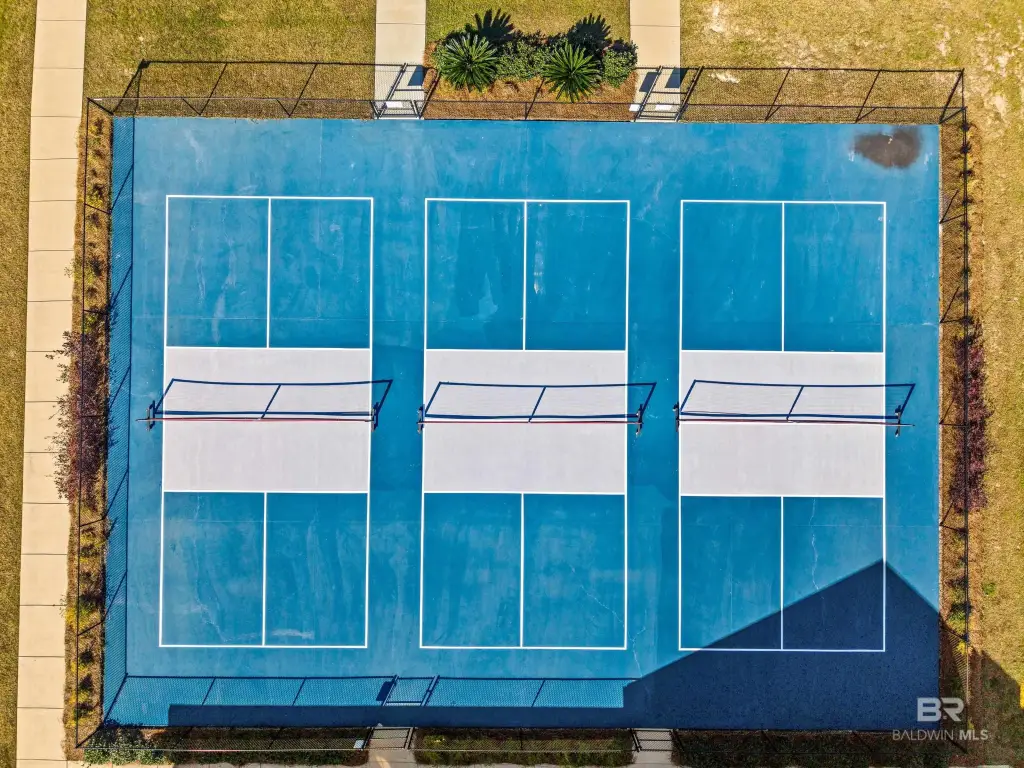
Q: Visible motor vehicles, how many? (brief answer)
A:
none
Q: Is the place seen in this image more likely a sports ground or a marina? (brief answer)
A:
sports ground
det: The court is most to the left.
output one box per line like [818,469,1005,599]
[160,196,373,648]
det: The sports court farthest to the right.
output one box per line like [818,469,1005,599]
[679,200,886,652]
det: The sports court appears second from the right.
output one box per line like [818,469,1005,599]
[420,198,629,650]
